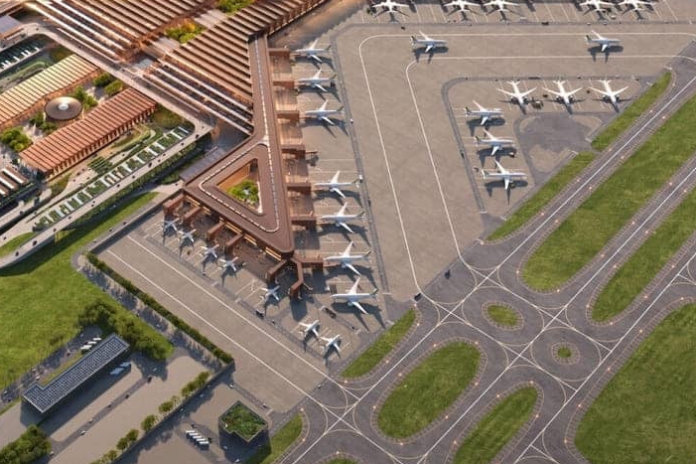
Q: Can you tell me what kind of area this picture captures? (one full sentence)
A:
This image shows an airport.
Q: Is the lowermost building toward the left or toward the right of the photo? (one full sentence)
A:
The lowermost building sits on the left side.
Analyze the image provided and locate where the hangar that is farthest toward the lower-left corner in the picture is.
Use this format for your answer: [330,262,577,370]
[23,333,129,420]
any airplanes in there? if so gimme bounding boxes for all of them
[468,99,504,121]
[475,128,512,152]
[484,159,523,184]
[412,33,442,50]
[498,77,533,103]
[326,239,368,269]
[589,76,623,103]
[317,169,356,196]
[484,0,513,10]
[216,254,240,272]
[315,332,341,352]
[307,98,343,121]
[375,0,405,10]
[175,227,198,244]
[447,0,476,10]
[321,199,362,227]
[542,77,577,101]
[588,33,618,49]
[196,242,220,259]
[583,0,612,9]
[299,68,334,89]
[257,282,282,300]
[158,217,182,233]
[294,38,328,58]
[332,279,376,311]
[294,318,320,337]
